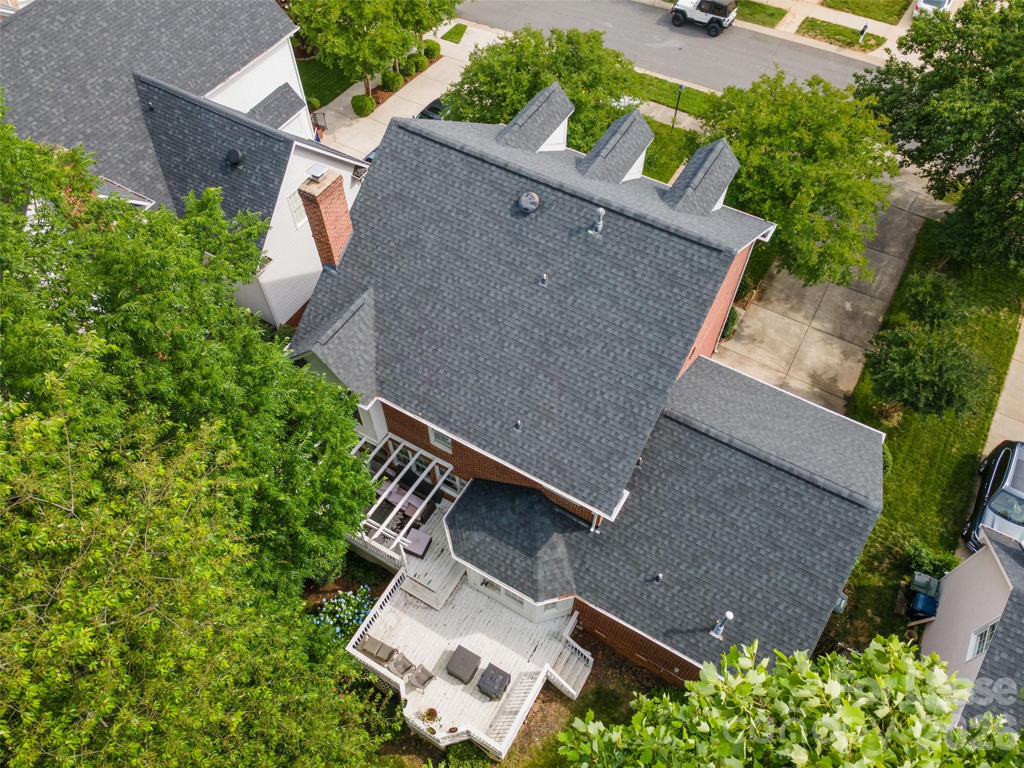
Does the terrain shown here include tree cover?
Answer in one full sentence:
Yes, the picture does contain tree cover.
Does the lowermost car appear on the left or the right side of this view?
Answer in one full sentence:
The lowermost car appears in the right half of the scene.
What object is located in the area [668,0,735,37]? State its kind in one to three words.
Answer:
car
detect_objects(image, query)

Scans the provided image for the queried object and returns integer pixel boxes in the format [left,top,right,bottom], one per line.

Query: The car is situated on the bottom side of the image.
[966,444,1024,544]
